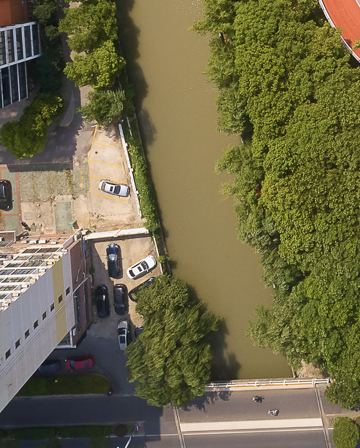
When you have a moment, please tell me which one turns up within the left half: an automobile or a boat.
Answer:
automobile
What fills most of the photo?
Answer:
trees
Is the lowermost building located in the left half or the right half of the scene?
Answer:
left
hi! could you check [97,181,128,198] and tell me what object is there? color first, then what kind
white car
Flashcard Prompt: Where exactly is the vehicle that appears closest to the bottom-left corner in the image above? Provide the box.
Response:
[34,360,64,375]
